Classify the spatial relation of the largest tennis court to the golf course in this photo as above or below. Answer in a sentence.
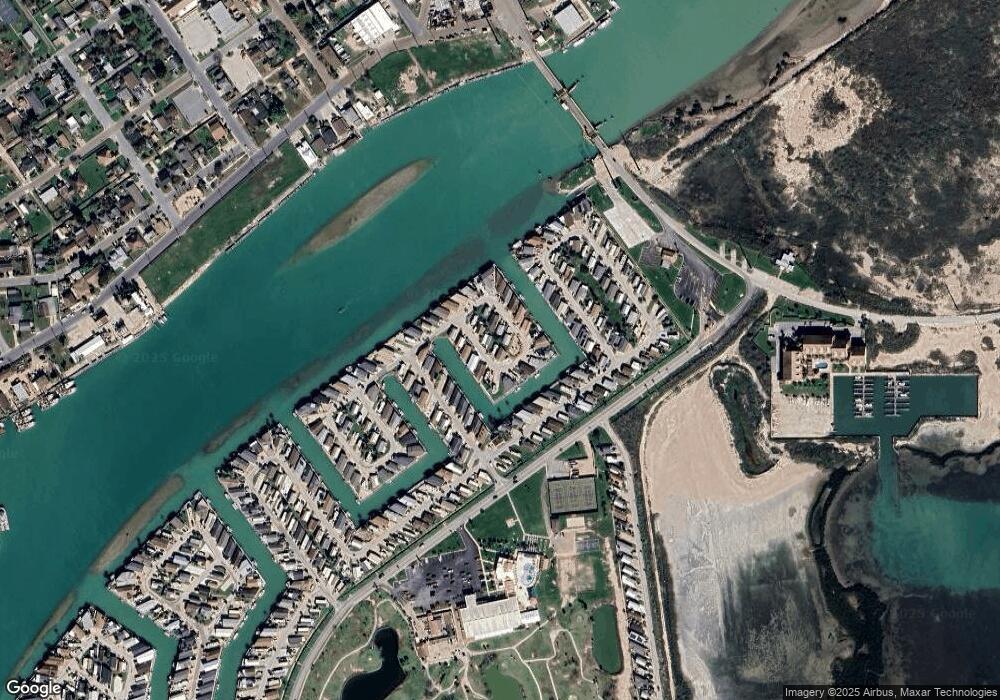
As seen from overhead, the largest tennis court falls above the golf course in the picture.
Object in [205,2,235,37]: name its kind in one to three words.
building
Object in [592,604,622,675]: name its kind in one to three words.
pond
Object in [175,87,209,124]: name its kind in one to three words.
building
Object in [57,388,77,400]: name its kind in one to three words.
boat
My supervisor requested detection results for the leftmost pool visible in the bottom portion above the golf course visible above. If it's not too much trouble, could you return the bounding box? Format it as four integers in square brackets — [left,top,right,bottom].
[518,554,539,587]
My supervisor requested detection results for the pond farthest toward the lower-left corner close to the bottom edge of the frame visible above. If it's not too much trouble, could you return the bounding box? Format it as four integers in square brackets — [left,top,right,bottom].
[341,627,410,700]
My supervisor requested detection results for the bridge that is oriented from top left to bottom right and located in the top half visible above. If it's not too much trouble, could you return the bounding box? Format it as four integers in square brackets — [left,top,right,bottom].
[527,49,607,154]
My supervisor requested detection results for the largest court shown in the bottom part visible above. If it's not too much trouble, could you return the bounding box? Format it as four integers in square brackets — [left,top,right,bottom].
[547,475,597,515]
